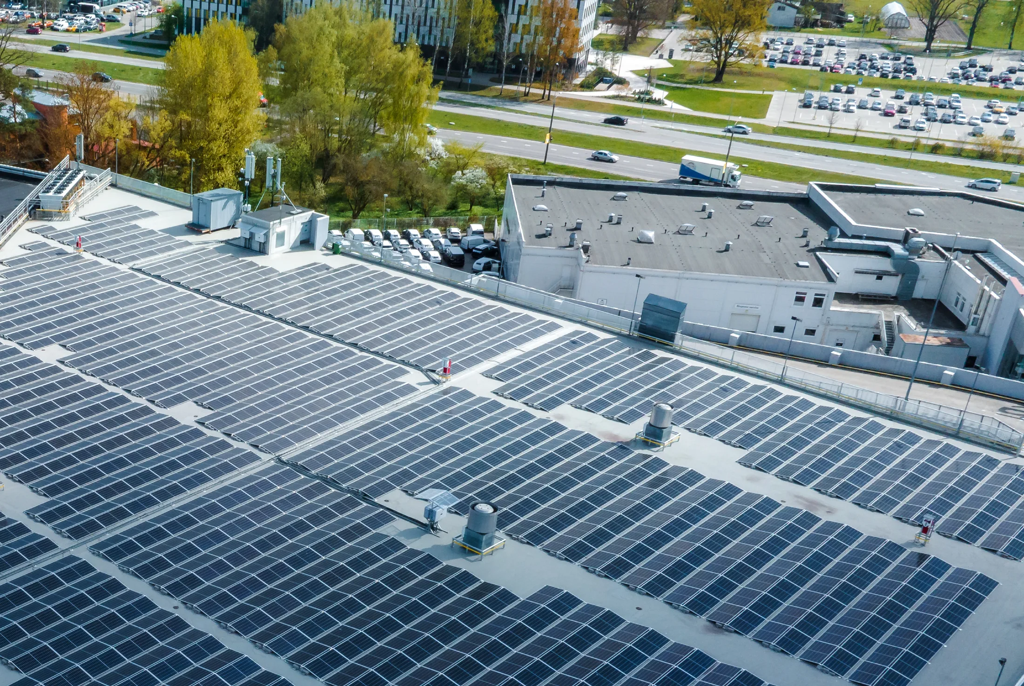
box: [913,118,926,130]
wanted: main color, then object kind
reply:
white vehicle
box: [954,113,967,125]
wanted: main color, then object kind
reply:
white vehicle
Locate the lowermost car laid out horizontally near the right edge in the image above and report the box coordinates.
[966,178,1003,192]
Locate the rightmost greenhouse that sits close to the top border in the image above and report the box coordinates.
[881,0,910,28]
